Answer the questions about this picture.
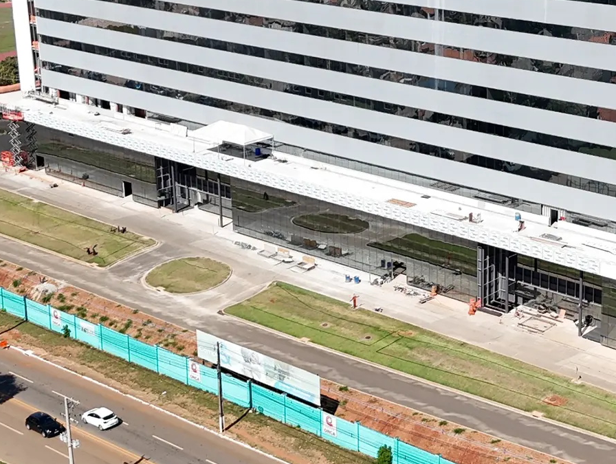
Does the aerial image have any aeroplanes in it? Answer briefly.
No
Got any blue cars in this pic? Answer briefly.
No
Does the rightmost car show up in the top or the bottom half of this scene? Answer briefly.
bottom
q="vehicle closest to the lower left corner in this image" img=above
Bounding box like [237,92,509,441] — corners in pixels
[26,407,66,437]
